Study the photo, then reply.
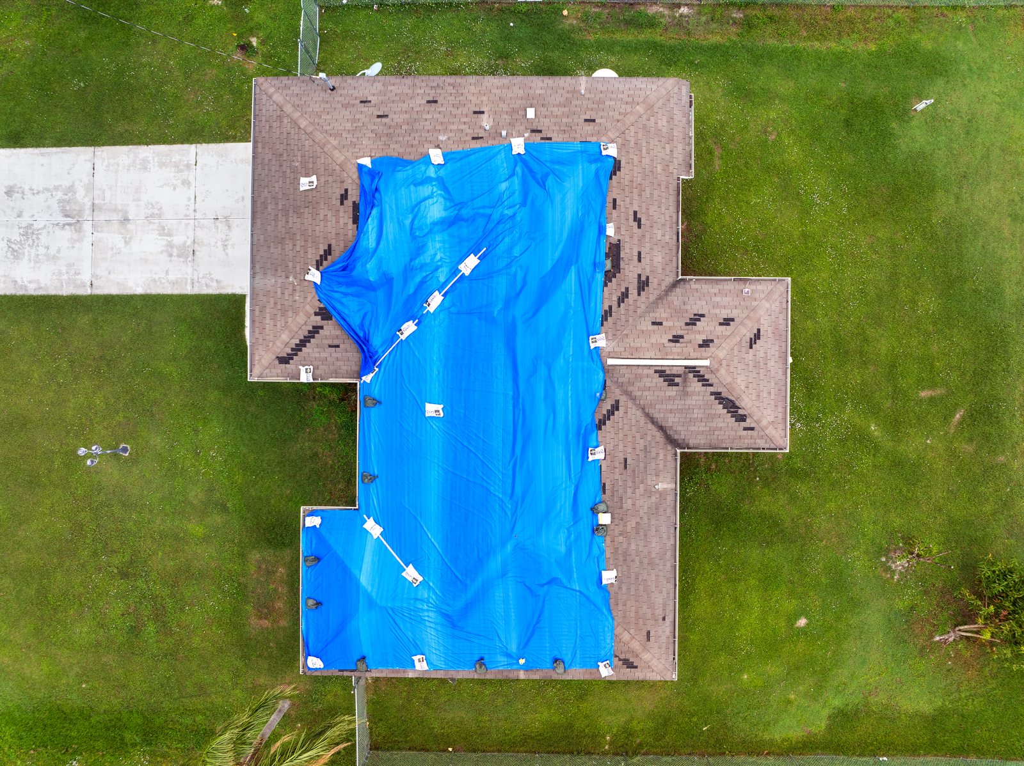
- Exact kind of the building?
house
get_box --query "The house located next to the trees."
[251,77,790,680]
